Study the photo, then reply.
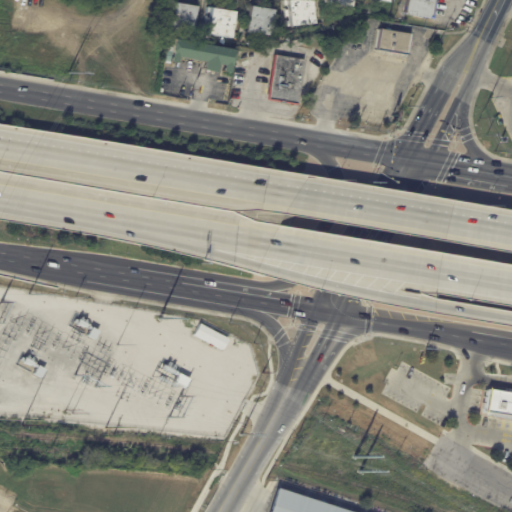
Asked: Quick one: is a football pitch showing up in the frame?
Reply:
No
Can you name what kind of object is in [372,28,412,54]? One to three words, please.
building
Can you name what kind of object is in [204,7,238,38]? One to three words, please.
house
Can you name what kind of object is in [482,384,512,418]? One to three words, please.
building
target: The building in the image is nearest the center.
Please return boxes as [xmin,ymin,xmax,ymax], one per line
[193,322,229,350]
